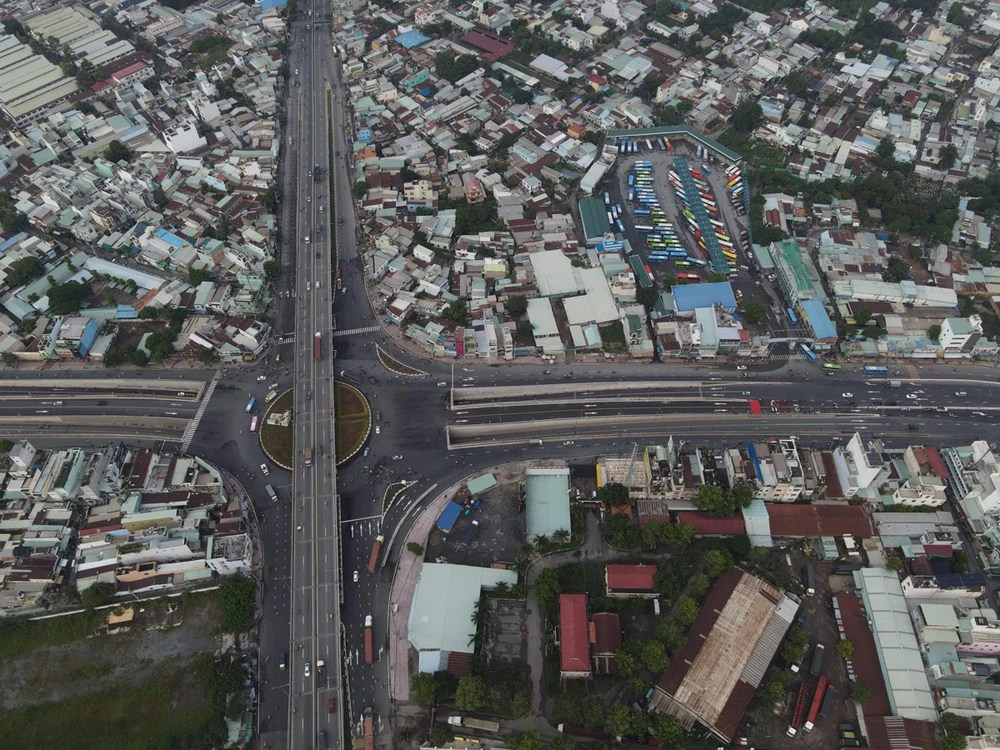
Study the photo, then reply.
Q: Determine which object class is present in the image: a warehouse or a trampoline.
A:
warehouse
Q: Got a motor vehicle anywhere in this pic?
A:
Yes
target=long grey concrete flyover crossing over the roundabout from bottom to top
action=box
[287,90,347,750]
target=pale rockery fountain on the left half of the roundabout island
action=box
[265,409,291,427]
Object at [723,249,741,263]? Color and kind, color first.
yellow vehicle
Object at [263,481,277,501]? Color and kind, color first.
gray vehicle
